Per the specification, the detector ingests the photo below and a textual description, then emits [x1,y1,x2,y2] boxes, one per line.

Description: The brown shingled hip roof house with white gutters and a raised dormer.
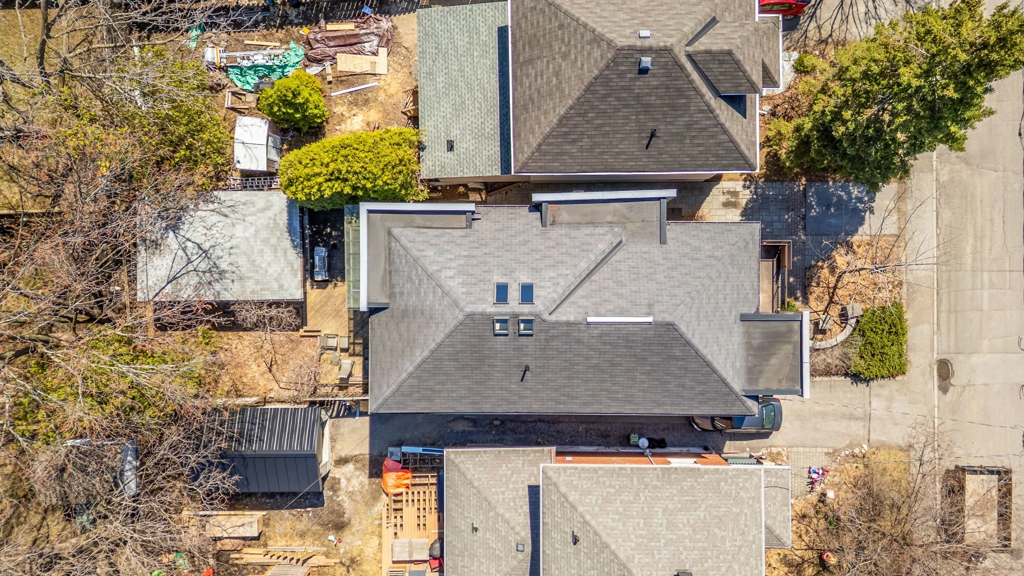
[506,0,783,181]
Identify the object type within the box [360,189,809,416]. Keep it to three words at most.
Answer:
house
